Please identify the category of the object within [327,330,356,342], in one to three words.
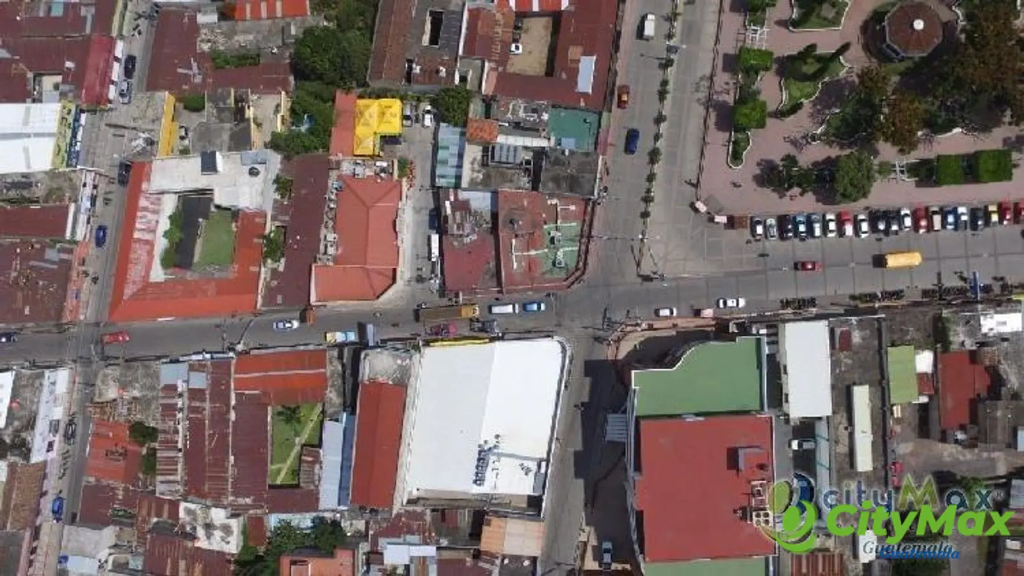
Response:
vehicle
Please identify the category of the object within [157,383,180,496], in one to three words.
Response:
house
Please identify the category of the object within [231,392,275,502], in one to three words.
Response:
house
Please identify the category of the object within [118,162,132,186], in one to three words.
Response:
car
